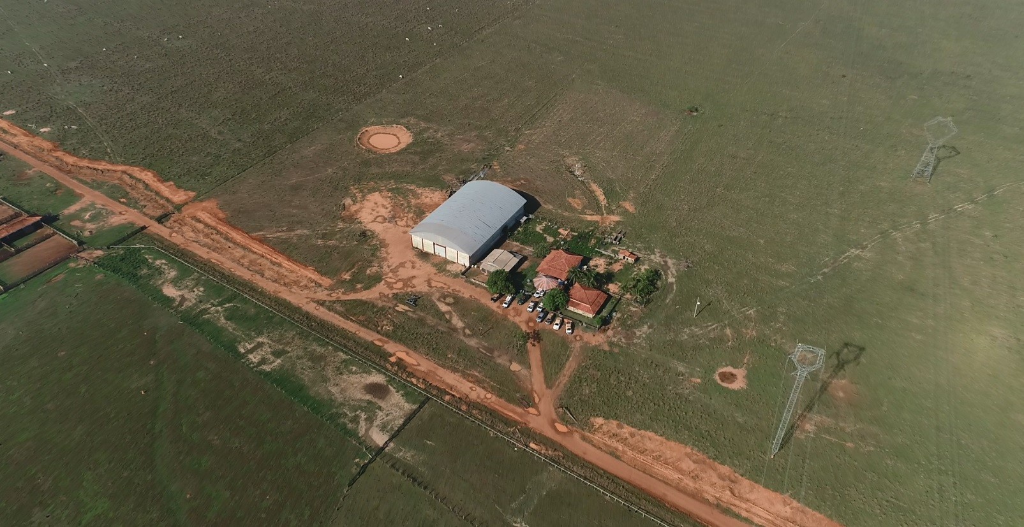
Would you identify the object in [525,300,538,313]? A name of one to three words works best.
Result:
vehicle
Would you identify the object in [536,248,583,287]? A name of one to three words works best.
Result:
house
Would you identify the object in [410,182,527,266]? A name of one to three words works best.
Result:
building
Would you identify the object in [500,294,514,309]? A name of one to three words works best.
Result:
car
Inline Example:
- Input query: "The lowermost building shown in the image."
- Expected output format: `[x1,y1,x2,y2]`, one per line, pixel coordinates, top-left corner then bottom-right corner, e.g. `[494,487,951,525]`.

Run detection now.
[563,283,608,321]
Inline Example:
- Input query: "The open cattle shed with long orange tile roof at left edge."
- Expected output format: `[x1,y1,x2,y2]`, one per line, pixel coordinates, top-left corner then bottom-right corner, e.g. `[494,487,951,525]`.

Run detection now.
[0,212,43,246]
